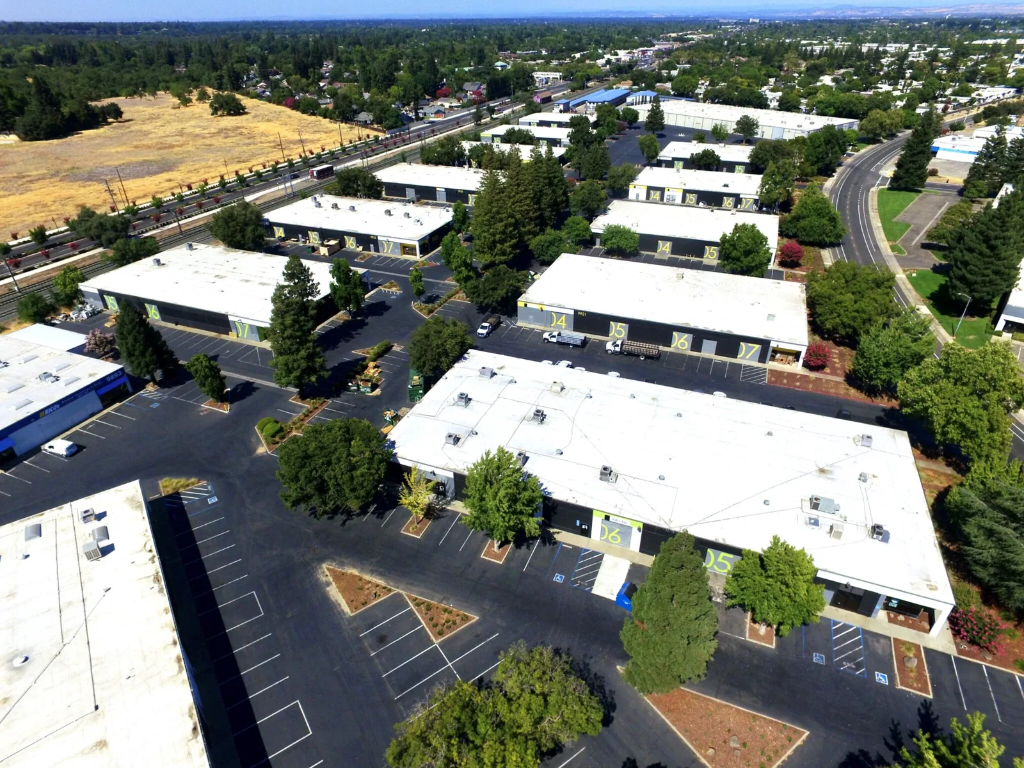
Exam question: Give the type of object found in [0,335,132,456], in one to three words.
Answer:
building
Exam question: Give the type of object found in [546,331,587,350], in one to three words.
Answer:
vehicle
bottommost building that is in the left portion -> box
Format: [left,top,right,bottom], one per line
[0,480,215,768]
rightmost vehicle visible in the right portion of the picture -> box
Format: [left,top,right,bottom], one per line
[832,408,853,420]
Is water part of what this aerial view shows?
No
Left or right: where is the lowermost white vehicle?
left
